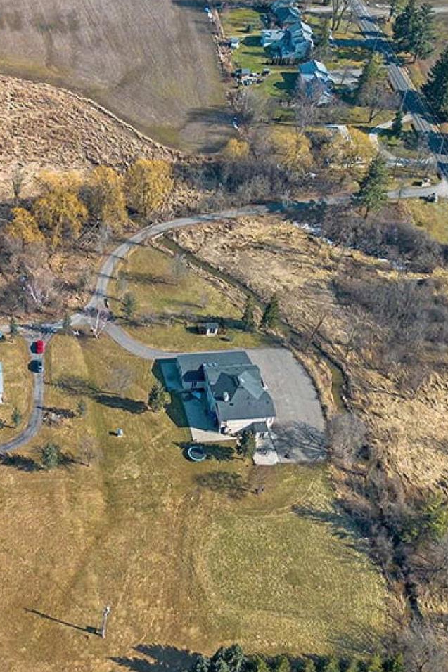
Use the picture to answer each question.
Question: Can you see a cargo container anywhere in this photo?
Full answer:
No, no cargo container is visible in the scene.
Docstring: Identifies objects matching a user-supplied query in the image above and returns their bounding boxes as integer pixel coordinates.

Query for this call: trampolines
[188,445,206,459]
